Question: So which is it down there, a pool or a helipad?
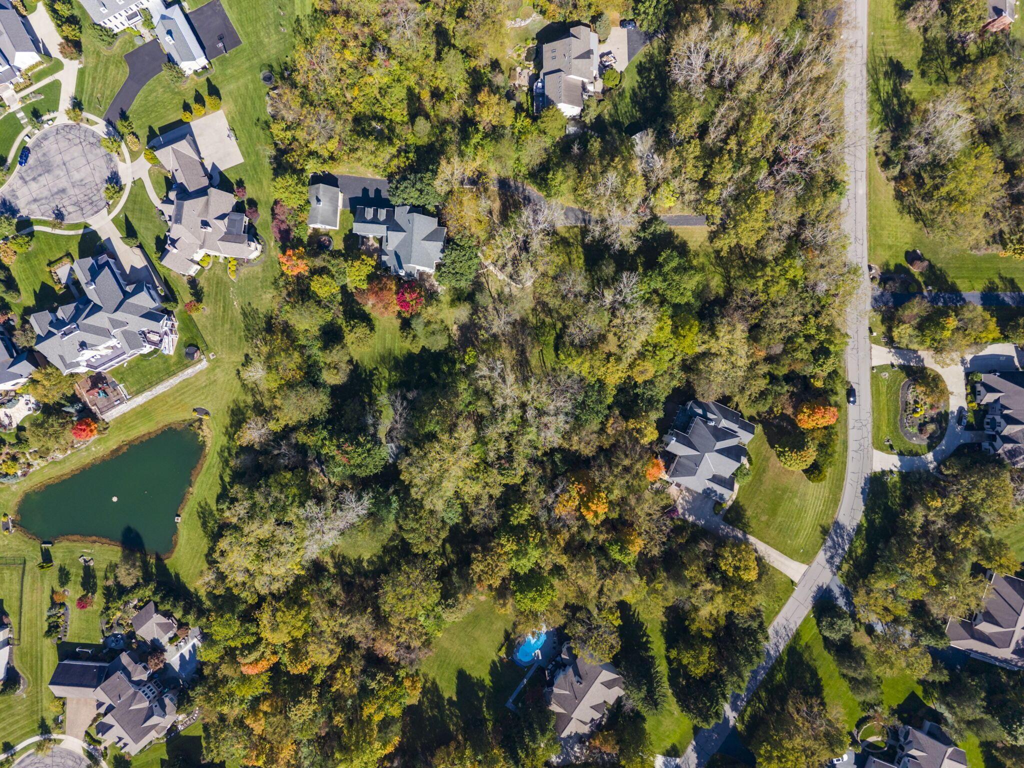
pool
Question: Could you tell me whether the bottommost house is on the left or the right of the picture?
right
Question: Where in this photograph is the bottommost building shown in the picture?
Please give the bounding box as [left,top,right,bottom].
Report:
[857,714,967,768]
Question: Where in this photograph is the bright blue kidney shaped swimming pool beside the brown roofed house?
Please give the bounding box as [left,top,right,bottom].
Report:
[516,632,548,663]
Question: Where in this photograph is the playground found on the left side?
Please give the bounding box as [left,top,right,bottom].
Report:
[76,373,124,415]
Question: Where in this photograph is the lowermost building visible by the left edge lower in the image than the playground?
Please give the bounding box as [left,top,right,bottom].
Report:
[47,647,181,755]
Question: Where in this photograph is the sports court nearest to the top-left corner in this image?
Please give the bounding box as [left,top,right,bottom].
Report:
[186,0,242,58]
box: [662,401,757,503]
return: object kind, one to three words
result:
house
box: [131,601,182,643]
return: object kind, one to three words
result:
building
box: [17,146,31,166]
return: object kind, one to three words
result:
car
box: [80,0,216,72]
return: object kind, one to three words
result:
house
